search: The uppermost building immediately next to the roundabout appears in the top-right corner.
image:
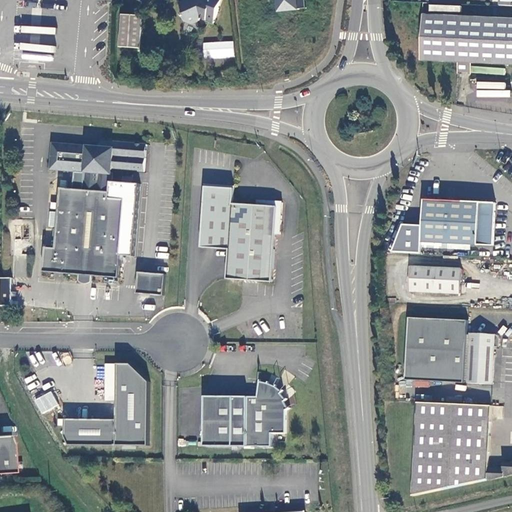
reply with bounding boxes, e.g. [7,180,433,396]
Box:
[418,13,512,74]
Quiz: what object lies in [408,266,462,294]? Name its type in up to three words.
shed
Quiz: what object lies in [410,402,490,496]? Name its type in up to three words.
building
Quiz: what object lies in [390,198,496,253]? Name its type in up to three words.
building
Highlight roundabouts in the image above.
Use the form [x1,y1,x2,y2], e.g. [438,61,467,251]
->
[304,64,418,178]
